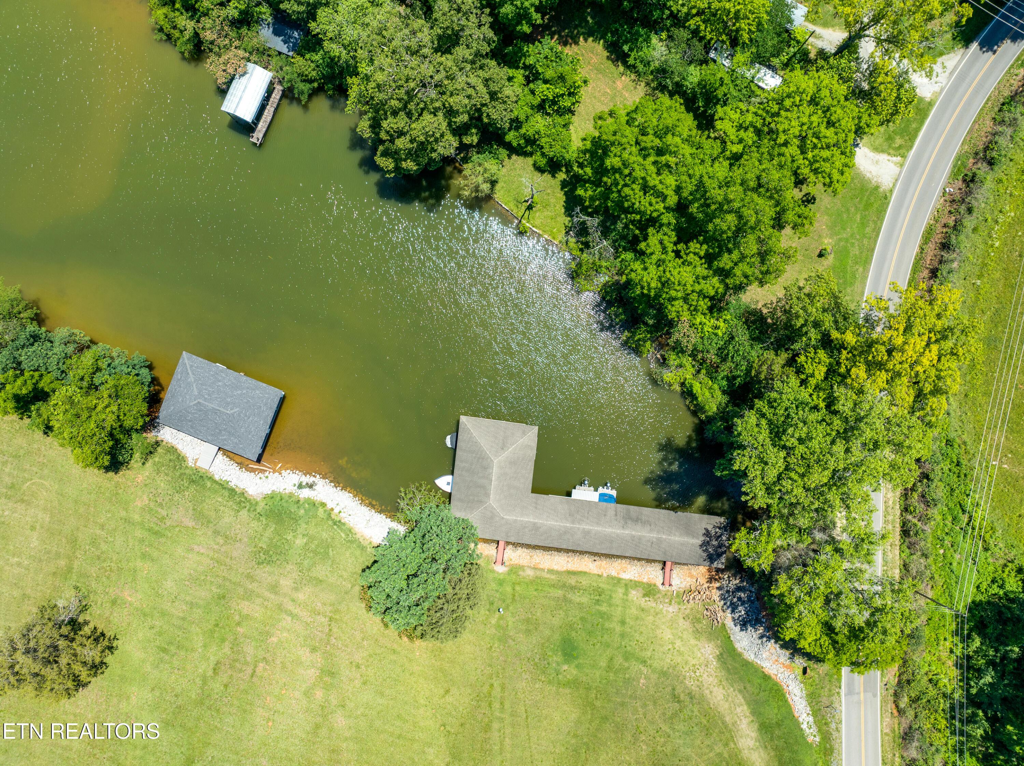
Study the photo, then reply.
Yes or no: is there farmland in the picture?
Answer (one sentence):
No, there's no farmland in this view.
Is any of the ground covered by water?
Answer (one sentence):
Yes, water shows up in the scene.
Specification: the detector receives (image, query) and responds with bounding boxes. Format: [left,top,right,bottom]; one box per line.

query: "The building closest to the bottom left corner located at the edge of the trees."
[158,351,289,462]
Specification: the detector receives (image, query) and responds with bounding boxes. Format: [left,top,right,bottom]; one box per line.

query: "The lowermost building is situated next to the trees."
[450,415,730,568]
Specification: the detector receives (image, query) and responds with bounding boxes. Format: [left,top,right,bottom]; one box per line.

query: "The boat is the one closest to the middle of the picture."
[444,433,458,449]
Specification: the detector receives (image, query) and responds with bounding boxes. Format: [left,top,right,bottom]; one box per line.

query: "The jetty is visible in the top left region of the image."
[249,86,285,146]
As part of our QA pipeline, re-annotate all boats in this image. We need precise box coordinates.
[444,433,458,449]
[598,483,616,504]
[434,476,454,491]
[575,478,593,492]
